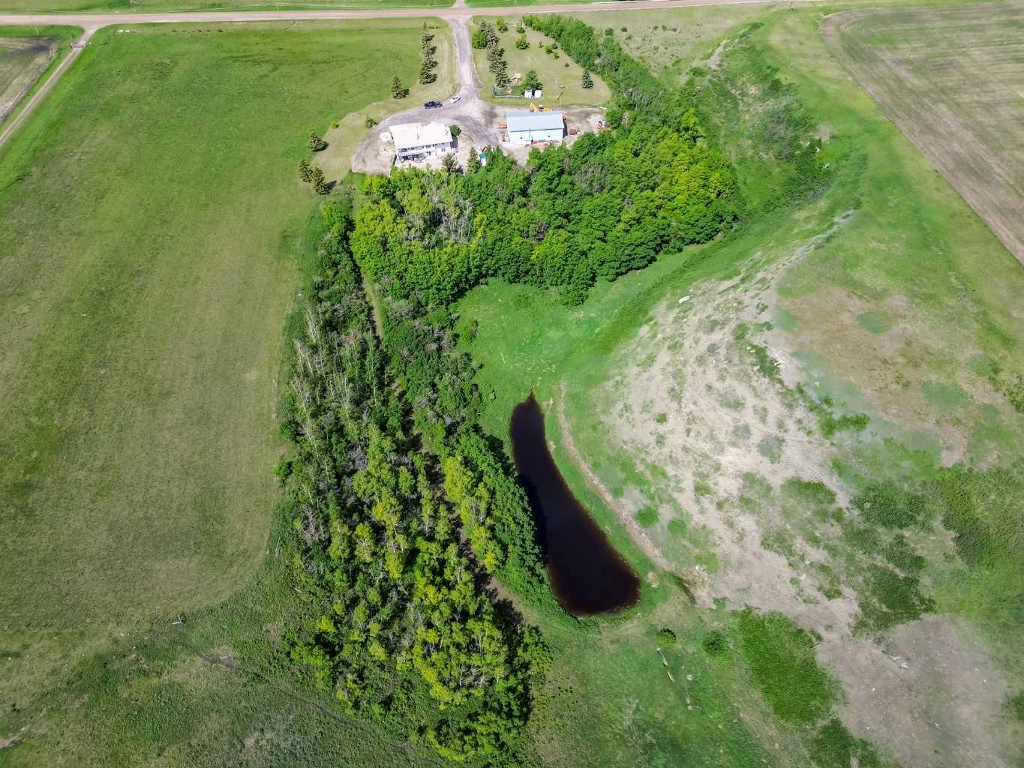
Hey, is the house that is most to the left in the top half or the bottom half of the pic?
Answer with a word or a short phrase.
top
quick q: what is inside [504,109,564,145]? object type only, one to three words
shed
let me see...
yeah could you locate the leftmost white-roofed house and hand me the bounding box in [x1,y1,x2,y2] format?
[390,121,453,165]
